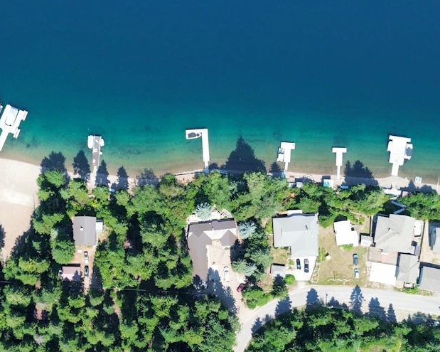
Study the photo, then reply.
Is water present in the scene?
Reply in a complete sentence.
Yes, there's water in this view.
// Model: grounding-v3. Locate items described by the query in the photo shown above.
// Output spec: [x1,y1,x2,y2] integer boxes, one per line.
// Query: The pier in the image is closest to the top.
[0,104,24,151]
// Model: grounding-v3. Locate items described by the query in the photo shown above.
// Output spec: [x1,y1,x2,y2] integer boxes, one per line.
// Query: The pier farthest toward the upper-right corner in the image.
[387,135,411,177]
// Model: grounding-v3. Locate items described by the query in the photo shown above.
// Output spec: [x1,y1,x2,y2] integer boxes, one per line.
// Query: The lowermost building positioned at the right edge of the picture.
[419,266,440,292]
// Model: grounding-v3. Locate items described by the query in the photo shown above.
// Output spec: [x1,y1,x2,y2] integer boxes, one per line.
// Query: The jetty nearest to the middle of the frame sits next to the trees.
[186,129,209,174]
